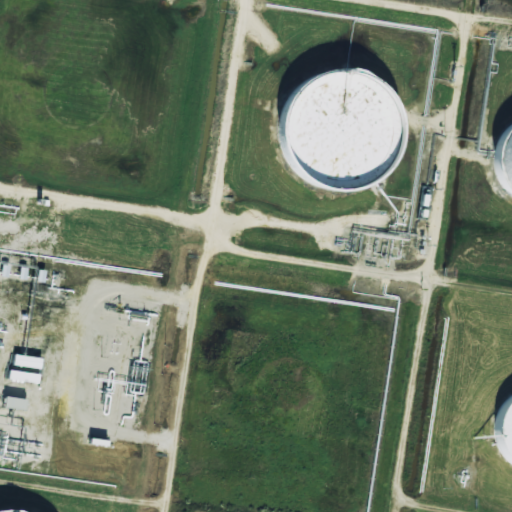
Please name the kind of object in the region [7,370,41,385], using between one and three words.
shed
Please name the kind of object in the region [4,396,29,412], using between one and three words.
shed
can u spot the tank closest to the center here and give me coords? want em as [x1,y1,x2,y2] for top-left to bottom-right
[278,69,408,193]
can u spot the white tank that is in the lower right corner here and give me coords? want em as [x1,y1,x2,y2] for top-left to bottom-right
[474,394,512,468]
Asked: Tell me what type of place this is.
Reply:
industrial area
